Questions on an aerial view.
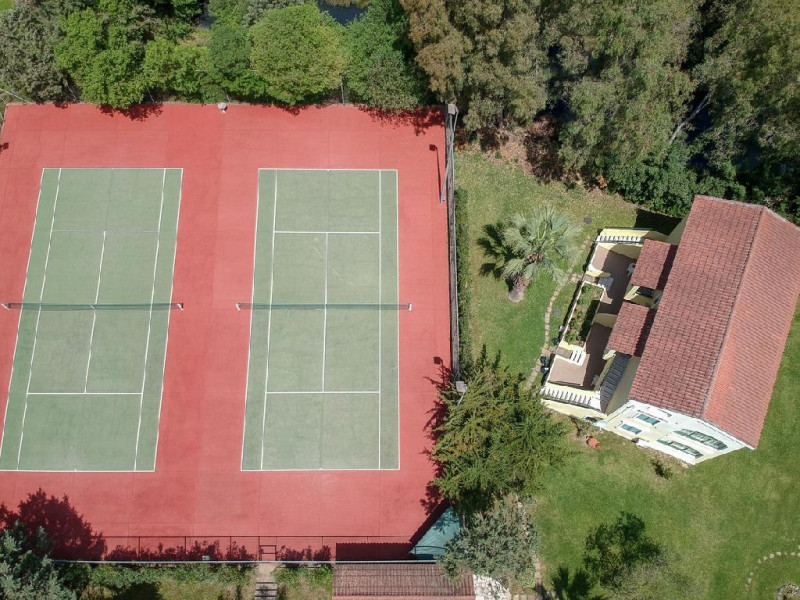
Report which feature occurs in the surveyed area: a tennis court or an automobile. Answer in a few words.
tennis court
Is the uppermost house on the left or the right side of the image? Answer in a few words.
right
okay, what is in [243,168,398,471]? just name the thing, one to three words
tennis court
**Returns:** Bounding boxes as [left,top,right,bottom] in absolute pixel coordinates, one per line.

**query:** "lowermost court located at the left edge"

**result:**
[0,167,183,472]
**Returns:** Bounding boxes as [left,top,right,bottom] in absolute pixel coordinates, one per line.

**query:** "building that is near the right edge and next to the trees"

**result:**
[601,195,800,464]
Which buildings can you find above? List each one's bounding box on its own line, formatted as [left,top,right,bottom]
[332,563,477,600]
[601,195,800,464]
